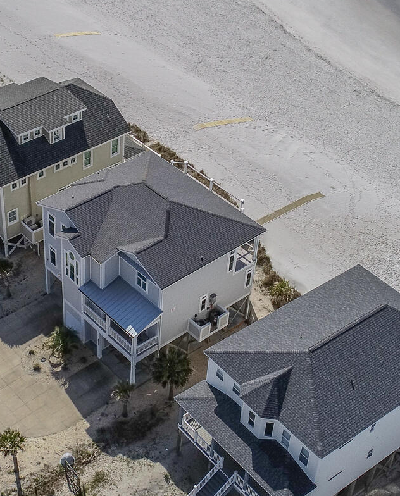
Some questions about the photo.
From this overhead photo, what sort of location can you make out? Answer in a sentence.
This image shows a residential area.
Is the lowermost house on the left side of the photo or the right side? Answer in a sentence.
The lowermost house appears in the right half of the scene.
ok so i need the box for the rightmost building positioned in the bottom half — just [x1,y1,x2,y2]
[172,266,400,496]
